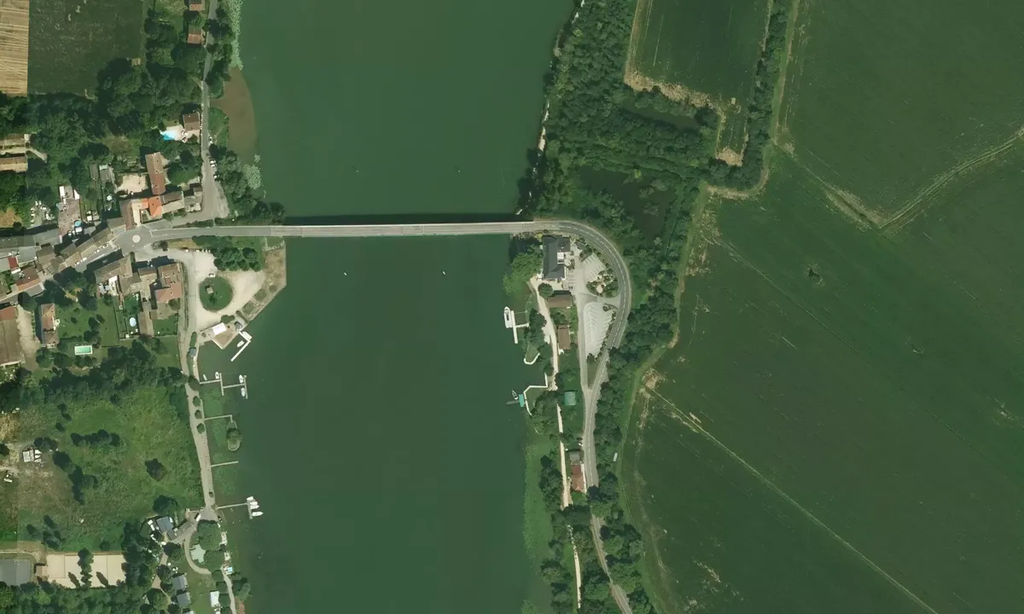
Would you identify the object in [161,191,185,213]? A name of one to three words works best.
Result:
house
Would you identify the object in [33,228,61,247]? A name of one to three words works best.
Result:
building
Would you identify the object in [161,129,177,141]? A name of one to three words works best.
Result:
swimming pool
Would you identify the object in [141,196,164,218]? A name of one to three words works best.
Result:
house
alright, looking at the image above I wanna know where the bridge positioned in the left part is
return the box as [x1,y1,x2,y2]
[284,222,516,237]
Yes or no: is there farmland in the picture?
Yes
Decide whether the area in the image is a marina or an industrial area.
marina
